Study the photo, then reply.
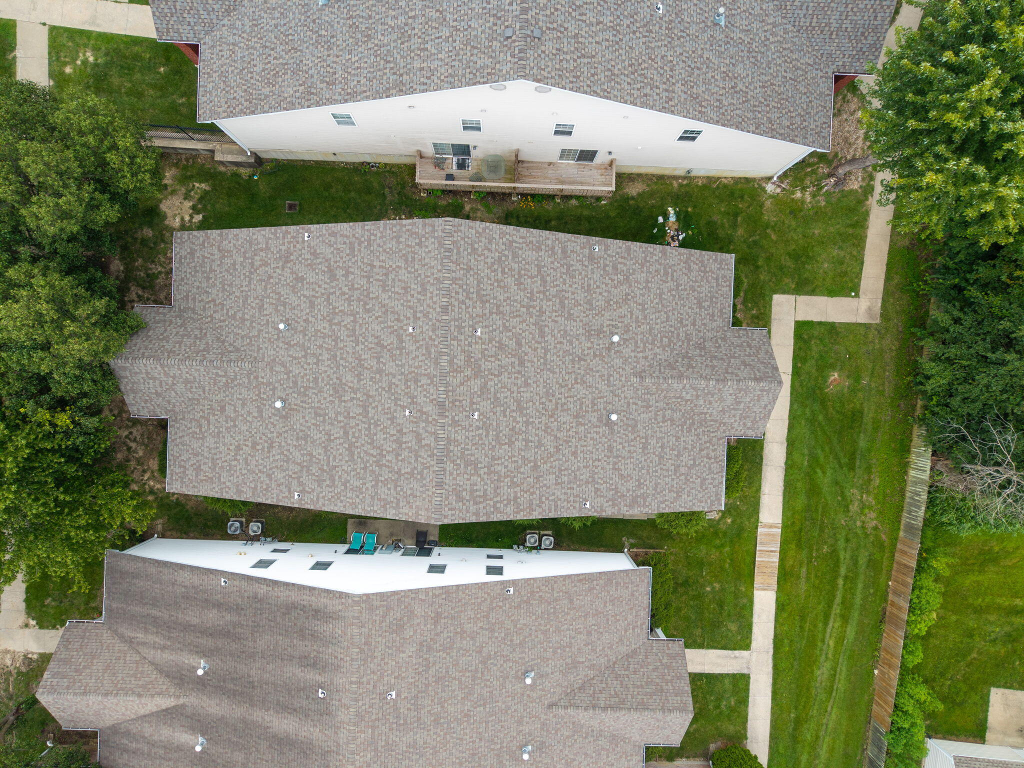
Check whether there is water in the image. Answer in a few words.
No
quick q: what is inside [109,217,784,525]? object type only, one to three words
house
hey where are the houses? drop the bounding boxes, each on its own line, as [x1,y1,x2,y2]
[35,531,693,768]
[109,217,784,525]
[924,730,1024,768]
[148,0,901,186]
